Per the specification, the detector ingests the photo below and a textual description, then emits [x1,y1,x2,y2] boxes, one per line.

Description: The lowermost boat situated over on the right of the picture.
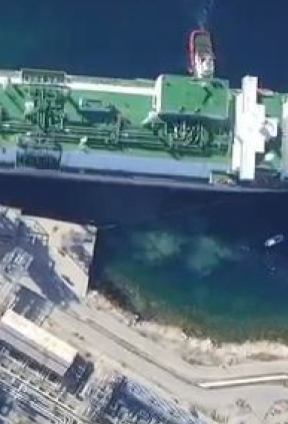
[266,233,287,246]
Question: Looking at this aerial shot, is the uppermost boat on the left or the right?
right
